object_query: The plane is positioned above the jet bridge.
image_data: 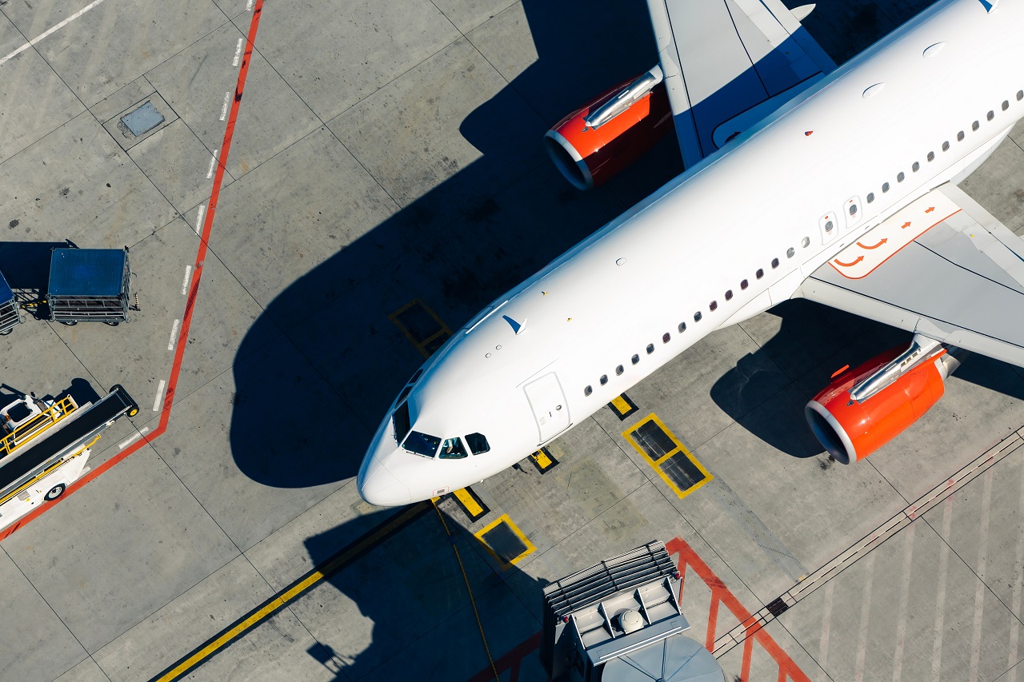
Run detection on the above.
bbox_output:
[356,0,1024,506]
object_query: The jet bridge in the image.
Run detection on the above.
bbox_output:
[543,537,725,682]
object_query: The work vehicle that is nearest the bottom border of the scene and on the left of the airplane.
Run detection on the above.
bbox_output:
[0,379,142,535]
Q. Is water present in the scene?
No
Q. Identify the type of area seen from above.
airport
